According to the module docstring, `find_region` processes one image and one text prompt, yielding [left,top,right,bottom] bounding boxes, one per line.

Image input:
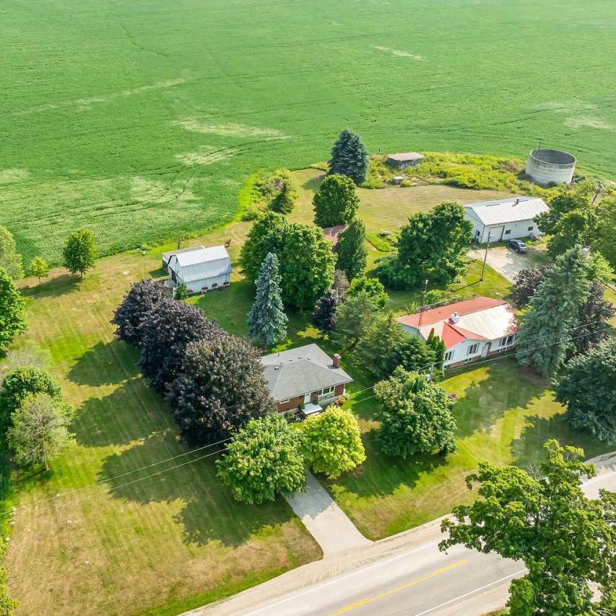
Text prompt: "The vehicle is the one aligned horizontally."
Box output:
[504,241,533,254]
